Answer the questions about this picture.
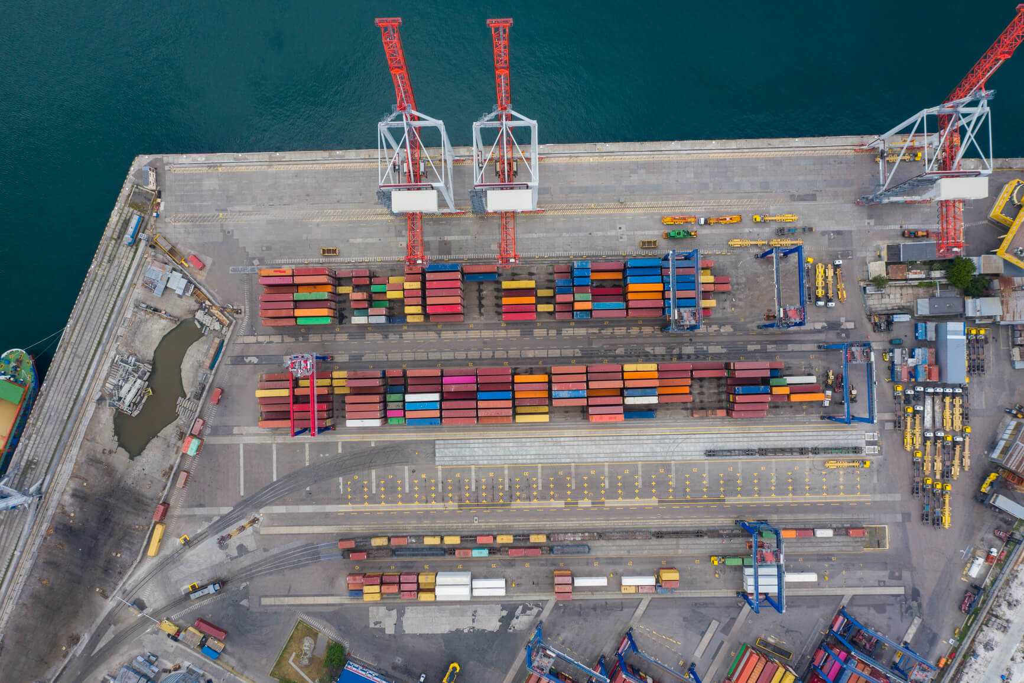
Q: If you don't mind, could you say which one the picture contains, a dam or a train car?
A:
train car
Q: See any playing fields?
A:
No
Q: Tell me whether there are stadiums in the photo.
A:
No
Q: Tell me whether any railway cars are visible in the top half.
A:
Yes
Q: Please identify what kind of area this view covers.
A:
port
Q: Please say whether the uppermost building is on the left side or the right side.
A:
left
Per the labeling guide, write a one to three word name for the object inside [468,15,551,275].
container crane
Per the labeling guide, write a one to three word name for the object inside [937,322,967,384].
building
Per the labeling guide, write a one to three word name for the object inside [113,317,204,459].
pond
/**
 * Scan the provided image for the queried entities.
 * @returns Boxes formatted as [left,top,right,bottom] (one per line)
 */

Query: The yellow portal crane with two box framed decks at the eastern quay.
[976,178,1024,269]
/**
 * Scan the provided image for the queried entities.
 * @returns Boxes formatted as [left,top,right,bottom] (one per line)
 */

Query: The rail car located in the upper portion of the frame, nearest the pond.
[117,214,142,246]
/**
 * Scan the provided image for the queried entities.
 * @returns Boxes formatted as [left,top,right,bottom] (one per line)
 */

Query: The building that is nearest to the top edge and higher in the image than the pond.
[141,166,162,192]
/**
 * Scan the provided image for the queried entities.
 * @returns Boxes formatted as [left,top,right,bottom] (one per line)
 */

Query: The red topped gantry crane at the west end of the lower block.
[286,355,339,437]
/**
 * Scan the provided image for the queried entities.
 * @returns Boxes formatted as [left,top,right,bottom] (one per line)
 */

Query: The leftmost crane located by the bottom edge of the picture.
[523,617,611,683]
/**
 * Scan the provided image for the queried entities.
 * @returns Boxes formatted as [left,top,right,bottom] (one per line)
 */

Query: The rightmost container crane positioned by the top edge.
[854,1,1024,263]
